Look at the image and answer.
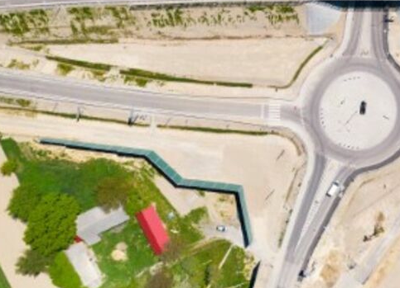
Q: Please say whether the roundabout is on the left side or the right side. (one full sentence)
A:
The roundabout sits on the right side.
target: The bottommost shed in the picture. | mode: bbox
[63,240,109,284]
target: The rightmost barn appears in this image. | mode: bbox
[135,203,172,253]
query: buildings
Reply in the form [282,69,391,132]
[76,203,113,243]
[63,240,109,284]
[135,203,172,253]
